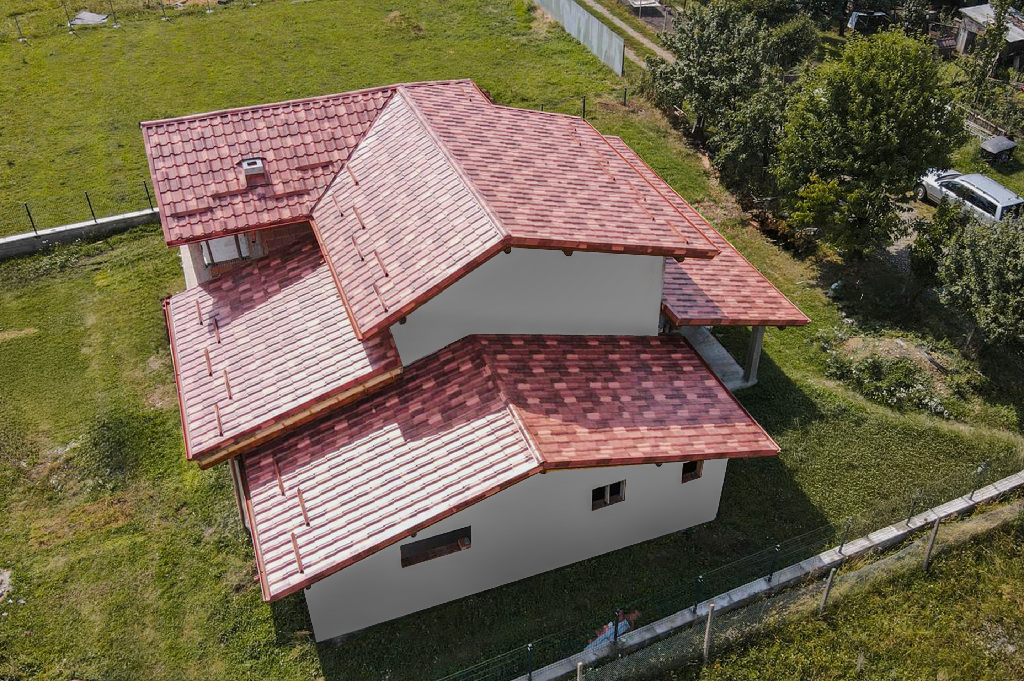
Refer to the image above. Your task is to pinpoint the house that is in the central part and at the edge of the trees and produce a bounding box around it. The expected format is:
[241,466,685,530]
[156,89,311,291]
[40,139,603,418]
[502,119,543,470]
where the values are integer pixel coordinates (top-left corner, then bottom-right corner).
[141,75,812,643]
